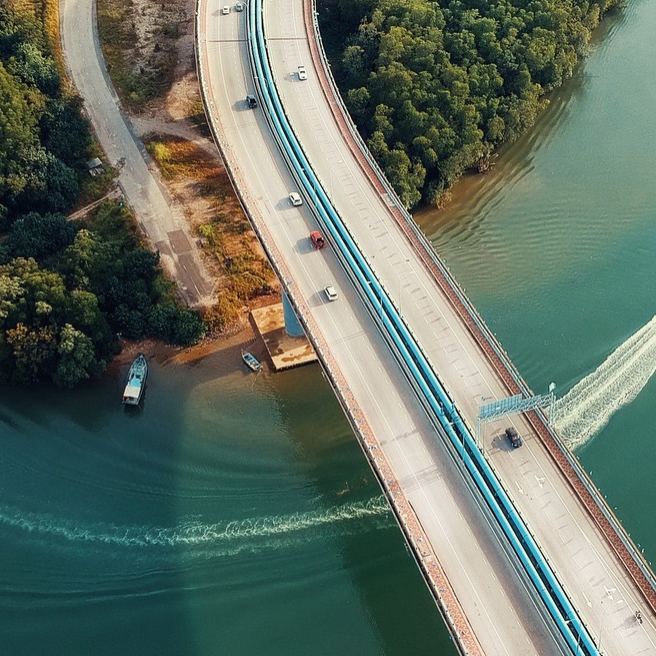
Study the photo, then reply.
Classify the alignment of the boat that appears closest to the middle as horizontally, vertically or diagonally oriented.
diagonally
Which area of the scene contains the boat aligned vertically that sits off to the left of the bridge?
left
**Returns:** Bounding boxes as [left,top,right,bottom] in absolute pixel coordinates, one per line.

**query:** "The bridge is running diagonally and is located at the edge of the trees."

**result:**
[191,0,656,656]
